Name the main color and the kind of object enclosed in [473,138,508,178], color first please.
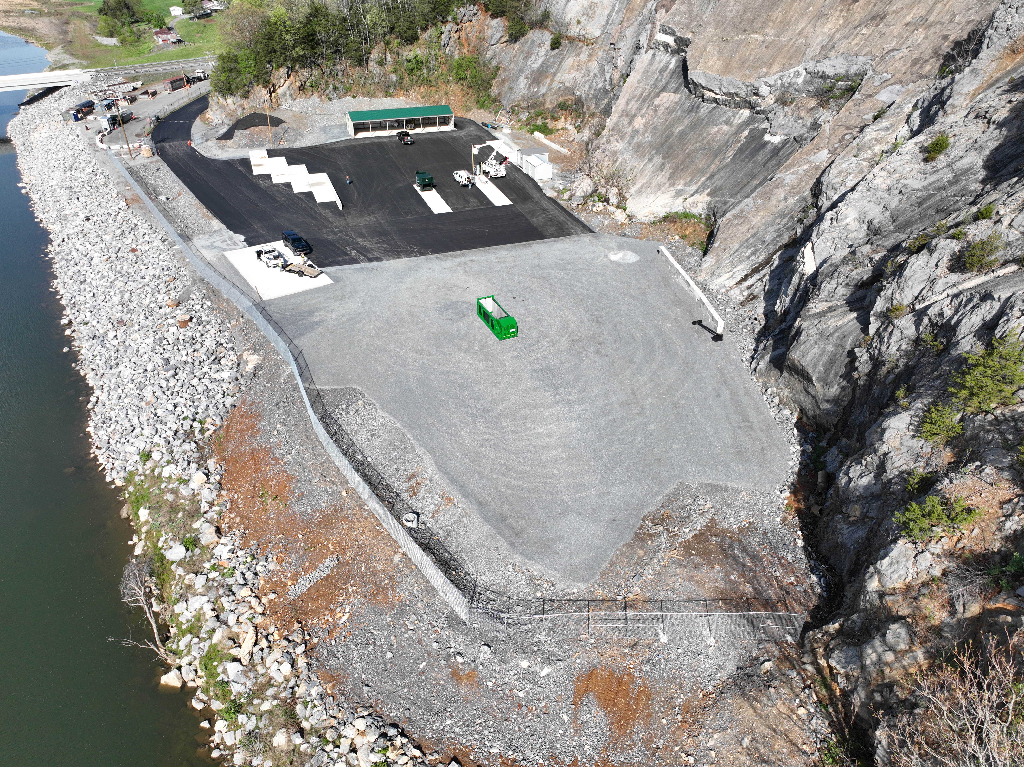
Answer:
white truck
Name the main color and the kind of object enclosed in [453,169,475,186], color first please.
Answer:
white vehicle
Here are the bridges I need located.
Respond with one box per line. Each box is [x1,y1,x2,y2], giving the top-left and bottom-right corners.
[0,69,90,96]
